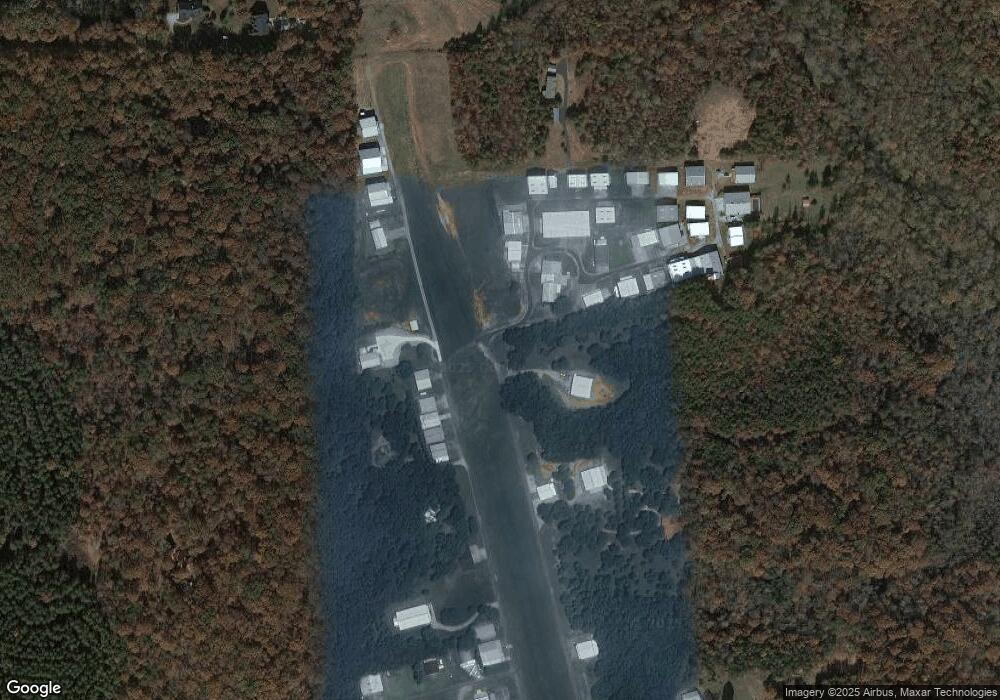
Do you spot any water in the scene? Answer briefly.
No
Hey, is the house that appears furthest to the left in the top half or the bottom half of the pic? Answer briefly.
top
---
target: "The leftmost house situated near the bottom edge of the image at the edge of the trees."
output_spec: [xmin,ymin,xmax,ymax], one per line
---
[360,675,383,695]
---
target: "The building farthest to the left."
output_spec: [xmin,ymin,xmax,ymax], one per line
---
[179,1,206,21]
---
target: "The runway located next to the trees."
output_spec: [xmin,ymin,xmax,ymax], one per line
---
[378,63,577,700]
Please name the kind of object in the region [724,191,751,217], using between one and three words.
house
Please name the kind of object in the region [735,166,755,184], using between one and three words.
house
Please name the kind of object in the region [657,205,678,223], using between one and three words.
hangar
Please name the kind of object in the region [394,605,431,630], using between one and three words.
barn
